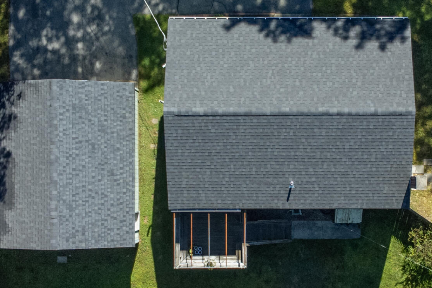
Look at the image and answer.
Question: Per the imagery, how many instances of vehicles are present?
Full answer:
The photo contains no vehicles.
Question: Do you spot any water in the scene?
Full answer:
No, no water is visible.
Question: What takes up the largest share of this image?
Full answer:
Most of the picture is covered by buildings.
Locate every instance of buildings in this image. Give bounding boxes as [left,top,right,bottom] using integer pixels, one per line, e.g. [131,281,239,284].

[159,14,427,214]
[0,79,141,249]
